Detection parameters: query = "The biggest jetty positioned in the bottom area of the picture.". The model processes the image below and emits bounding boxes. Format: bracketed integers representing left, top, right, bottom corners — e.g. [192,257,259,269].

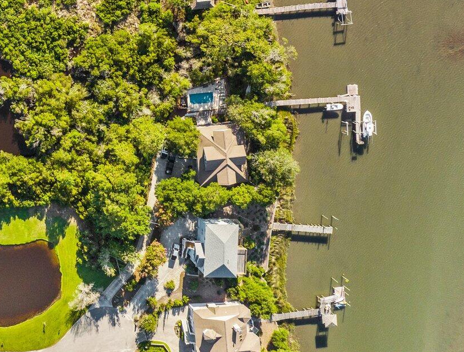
[264,285,345,323]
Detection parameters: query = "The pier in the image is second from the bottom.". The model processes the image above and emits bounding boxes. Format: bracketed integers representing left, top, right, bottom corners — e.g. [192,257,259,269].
[273,221,334,235]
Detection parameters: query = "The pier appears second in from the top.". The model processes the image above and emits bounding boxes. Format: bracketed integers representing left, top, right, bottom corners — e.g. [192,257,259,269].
[266,84,363,145]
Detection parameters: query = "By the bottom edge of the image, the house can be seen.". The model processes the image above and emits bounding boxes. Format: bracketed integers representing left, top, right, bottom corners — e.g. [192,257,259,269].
[179,291,277,352]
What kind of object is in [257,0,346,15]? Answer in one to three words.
pier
